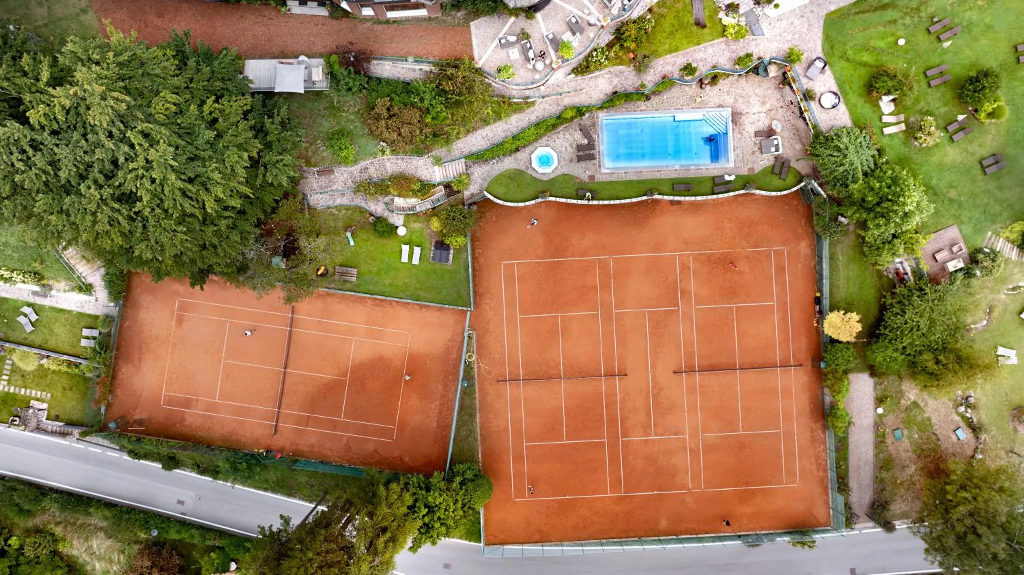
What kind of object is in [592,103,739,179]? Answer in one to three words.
swimming pool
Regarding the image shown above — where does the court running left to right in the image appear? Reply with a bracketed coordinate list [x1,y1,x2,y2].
[104,273,472,477]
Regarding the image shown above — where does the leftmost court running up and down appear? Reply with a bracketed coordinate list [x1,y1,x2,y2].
[470,195,624,543]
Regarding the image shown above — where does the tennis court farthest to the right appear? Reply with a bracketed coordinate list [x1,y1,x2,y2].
[676,184,830,533]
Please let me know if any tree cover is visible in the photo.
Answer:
Yes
